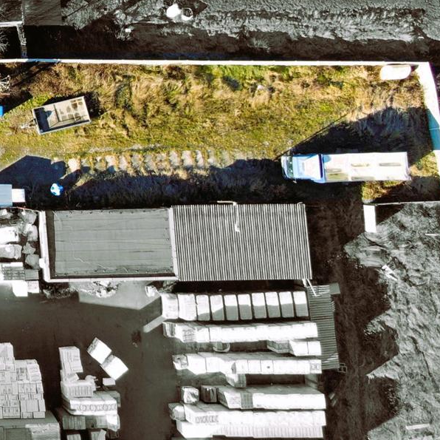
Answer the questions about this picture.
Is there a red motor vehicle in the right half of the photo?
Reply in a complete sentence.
No, there's no red motor vehicle to be seen in the right half of the photo.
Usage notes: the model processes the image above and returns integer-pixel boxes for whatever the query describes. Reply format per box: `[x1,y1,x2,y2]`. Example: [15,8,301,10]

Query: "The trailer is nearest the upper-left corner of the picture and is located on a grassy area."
[24,95,95,136]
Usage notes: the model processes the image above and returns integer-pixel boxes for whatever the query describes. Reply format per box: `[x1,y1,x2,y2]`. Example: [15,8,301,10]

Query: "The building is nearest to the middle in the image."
[159,201,315,296]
